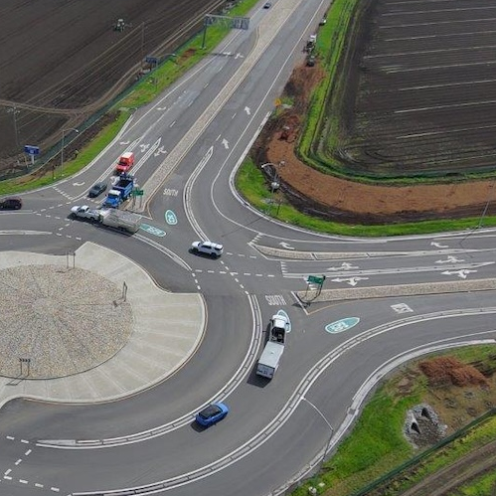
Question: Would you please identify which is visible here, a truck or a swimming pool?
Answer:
truck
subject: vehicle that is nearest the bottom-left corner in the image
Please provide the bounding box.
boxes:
[194,401,231,428]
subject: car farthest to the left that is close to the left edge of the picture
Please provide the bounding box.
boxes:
[0,195,22,210]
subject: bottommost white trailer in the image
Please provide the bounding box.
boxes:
[258,336,286,373]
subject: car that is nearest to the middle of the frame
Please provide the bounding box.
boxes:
[189,240,226,260]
